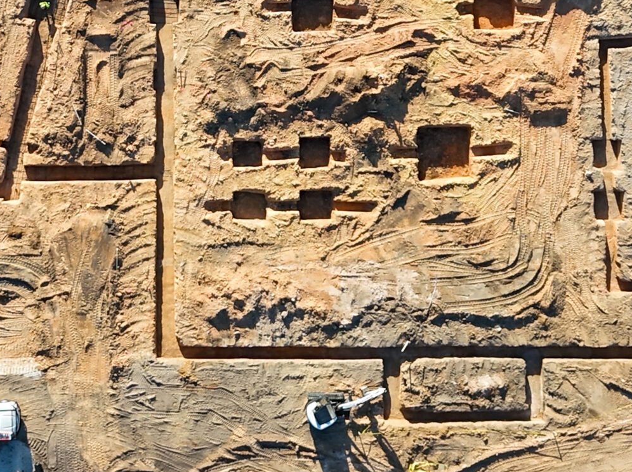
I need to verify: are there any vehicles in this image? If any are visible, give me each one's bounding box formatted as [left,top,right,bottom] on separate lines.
[0,399,19,445]
[307,384,388,429]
